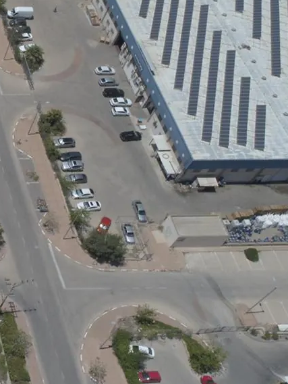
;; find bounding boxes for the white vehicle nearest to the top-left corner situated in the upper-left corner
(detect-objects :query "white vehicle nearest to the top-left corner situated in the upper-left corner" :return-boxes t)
[8,5,35,18]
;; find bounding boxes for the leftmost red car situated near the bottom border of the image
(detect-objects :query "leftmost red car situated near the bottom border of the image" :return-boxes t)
[137,369,165,384]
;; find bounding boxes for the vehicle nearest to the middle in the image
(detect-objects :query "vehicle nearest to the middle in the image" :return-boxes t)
[132,199,149,222]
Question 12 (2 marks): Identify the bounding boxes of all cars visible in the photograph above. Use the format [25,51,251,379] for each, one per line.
[137,369,165,384]
[64,173,90,184]
[97,215,114,232]
[18,43,39,53]
[132,199,149,222]
[13,24,33,34]
[120,223,136,246]
[101,87,126,98]
[9,18,27,27]
[109,98,133,108]
[60,158,85,172]
[71,187,95,199]
[118,130,143,141]
[108,107,132,117]
[93,66,116,76]
[133,343,157,360]
[62,149,84,161]
[97,77,120,87]
[54,136,77,148]
[76,199,102,211]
